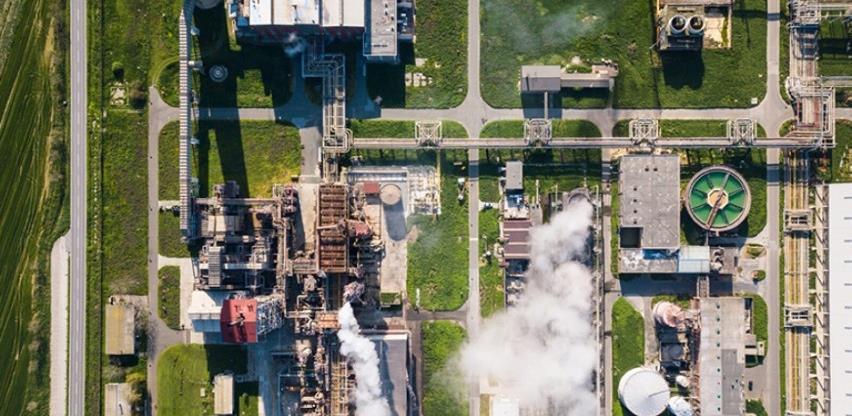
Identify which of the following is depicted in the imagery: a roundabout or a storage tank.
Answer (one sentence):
This aerial view contains a storage tank.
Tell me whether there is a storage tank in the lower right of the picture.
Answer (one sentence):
Yes, I can see a storage tank in the lower right of the picture.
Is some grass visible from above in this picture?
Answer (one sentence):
Yes, grass shows up in the scene.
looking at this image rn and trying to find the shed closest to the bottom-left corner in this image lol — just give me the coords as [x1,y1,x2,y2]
[105,382,133,416]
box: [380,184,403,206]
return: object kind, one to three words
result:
silo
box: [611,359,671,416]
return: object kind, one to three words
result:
storage tank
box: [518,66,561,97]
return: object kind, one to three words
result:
building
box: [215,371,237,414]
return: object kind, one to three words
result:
shed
